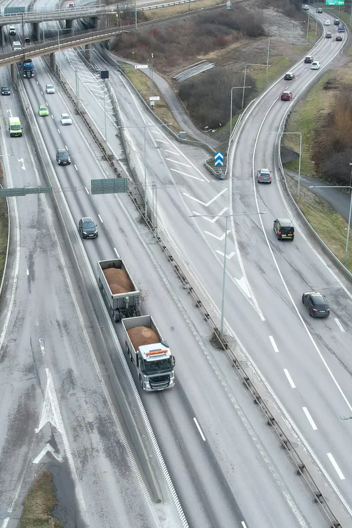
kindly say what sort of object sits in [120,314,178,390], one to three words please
truck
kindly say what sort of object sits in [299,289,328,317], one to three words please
car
